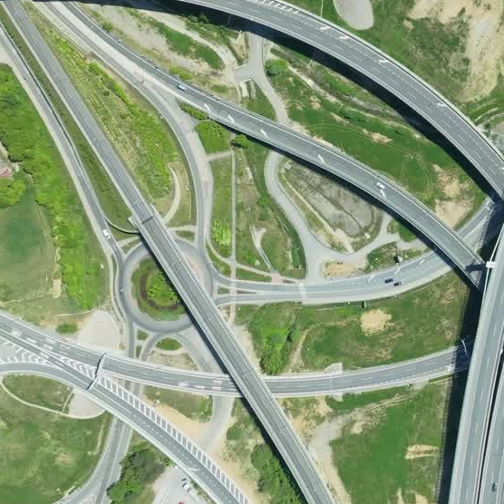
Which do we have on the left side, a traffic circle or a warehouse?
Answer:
traffic circle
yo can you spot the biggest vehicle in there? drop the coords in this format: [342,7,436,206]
[181,481,195,496]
